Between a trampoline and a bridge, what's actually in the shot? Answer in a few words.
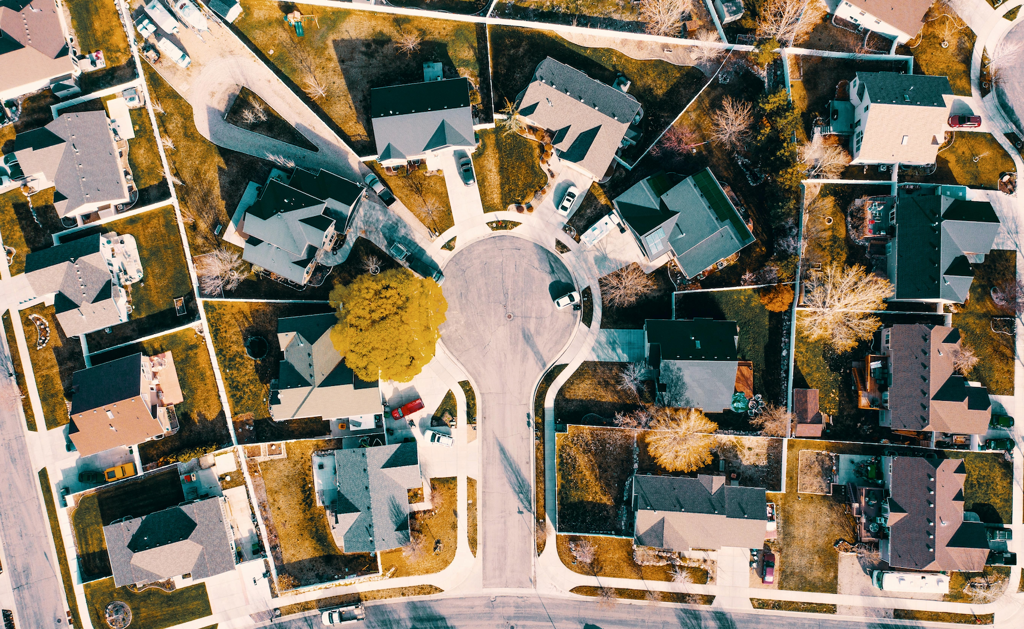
trampoline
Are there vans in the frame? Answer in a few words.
Yes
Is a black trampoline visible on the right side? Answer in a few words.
No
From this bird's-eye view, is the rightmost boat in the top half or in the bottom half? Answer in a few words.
top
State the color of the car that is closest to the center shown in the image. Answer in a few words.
white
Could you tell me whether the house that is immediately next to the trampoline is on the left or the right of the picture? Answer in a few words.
left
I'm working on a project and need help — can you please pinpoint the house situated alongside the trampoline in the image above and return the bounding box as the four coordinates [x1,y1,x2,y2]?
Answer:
[268,311,384,421]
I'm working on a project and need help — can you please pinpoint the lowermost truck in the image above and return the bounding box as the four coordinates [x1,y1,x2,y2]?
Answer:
[321,605,367,626]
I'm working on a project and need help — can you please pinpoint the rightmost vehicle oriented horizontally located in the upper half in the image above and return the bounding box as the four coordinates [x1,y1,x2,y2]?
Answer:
[949,115,982,129]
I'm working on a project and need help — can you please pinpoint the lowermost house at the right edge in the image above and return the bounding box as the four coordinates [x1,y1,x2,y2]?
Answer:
[880,456,990,573]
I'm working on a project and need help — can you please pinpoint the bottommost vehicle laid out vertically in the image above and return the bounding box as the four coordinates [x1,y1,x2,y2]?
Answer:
[761,552,777,585]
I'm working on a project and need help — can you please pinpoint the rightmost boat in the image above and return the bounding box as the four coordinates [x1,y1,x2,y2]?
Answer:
[171,0,215,37]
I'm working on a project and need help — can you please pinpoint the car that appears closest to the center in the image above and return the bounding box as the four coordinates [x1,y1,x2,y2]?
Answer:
[554,289,581,310]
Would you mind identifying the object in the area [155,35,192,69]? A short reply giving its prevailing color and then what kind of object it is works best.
white van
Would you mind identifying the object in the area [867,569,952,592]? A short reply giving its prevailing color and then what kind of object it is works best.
white camper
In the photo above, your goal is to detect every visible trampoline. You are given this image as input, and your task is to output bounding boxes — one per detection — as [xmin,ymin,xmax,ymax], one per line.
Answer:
[241,334,271,361]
